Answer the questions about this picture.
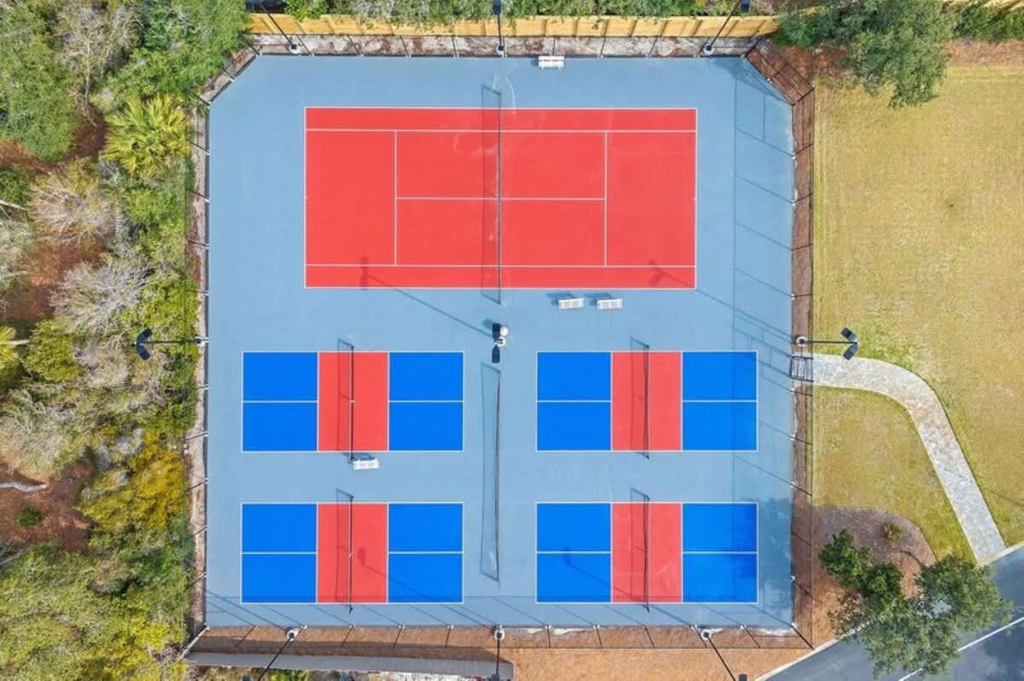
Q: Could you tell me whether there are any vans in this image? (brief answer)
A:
No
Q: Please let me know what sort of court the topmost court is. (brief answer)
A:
tennis court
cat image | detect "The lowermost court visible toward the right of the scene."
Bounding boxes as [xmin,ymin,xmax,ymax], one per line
[536,502,759,604]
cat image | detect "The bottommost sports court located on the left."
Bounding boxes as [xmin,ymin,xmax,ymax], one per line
[241,502,464,604]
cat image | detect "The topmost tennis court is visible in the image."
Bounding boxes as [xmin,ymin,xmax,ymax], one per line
[305,106,697,289]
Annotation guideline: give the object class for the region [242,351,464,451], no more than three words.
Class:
sports court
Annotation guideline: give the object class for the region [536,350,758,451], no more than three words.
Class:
sports court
